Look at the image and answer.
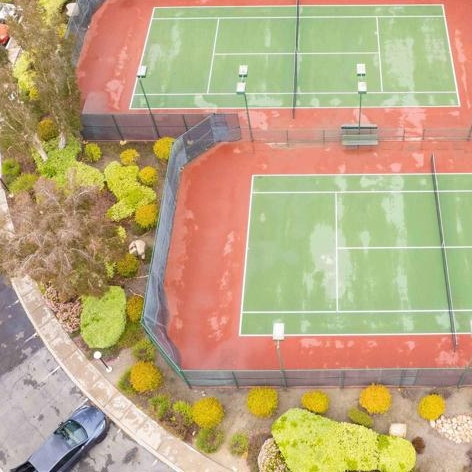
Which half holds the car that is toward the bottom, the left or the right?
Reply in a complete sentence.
The car that is toward the bottom sits on the left side.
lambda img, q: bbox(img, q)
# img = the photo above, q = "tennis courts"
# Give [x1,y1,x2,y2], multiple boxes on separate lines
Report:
[78,0,472,139]
[154,137,472,372]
